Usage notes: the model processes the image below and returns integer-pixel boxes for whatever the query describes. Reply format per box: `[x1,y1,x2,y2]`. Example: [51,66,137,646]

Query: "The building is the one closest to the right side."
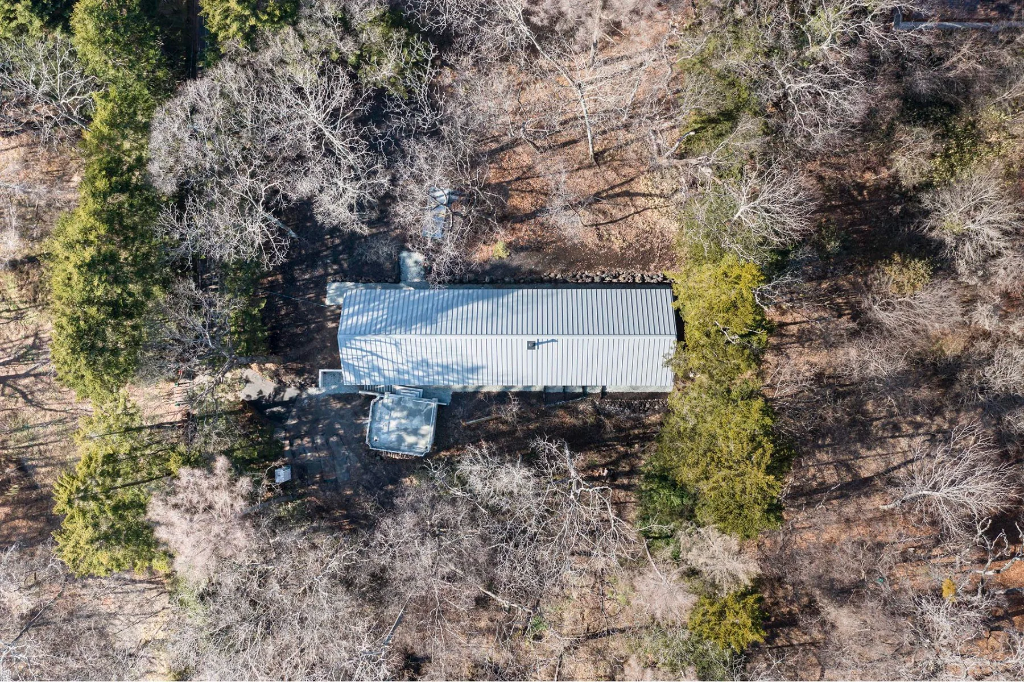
[337,288,678,386]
